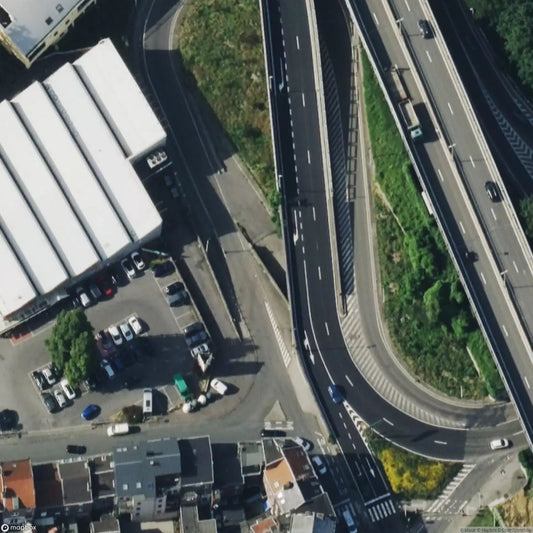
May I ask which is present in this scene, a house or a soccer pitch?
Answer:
house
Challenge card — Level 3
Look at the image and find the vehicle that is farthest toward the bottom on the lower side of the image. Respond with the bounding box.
[342,509,356,531]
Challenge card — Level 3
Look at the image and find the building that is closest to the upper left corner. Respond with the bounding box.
[0,0,107,79]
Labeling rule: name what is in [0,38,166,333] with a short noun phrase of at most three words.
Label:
warehouse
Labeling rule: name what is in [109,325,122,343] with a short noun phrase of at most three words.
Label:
vehicle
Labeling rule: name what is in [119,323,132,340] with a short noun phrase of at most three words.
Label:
vehicle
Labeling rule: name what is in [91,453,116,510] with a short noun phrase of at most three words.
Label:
house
